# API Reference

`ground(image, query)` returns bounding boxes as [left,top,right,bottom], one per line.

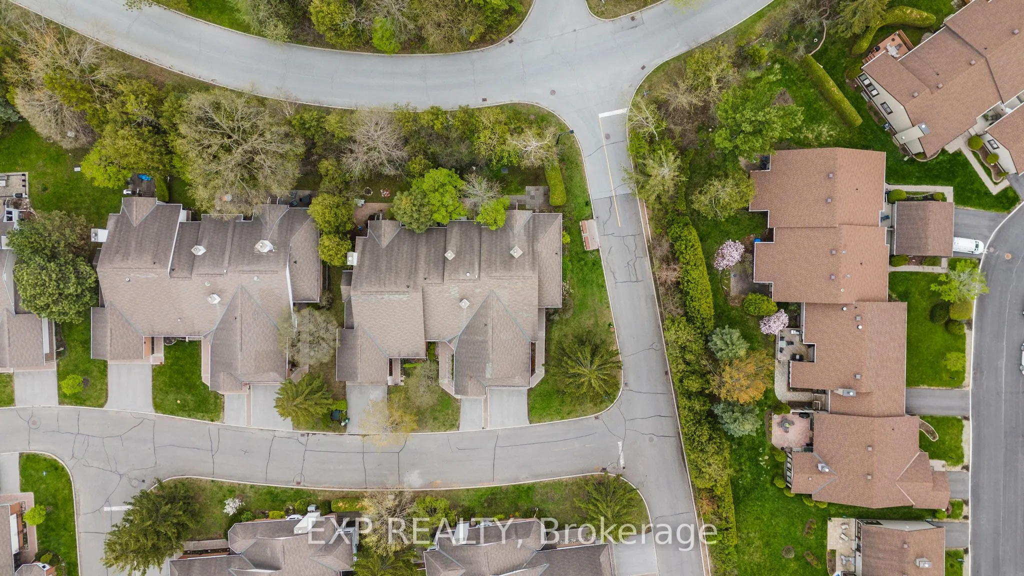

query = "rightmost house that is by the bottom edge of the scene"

[854,519,946,576]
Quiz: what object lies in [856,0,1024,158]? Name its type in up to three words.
house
